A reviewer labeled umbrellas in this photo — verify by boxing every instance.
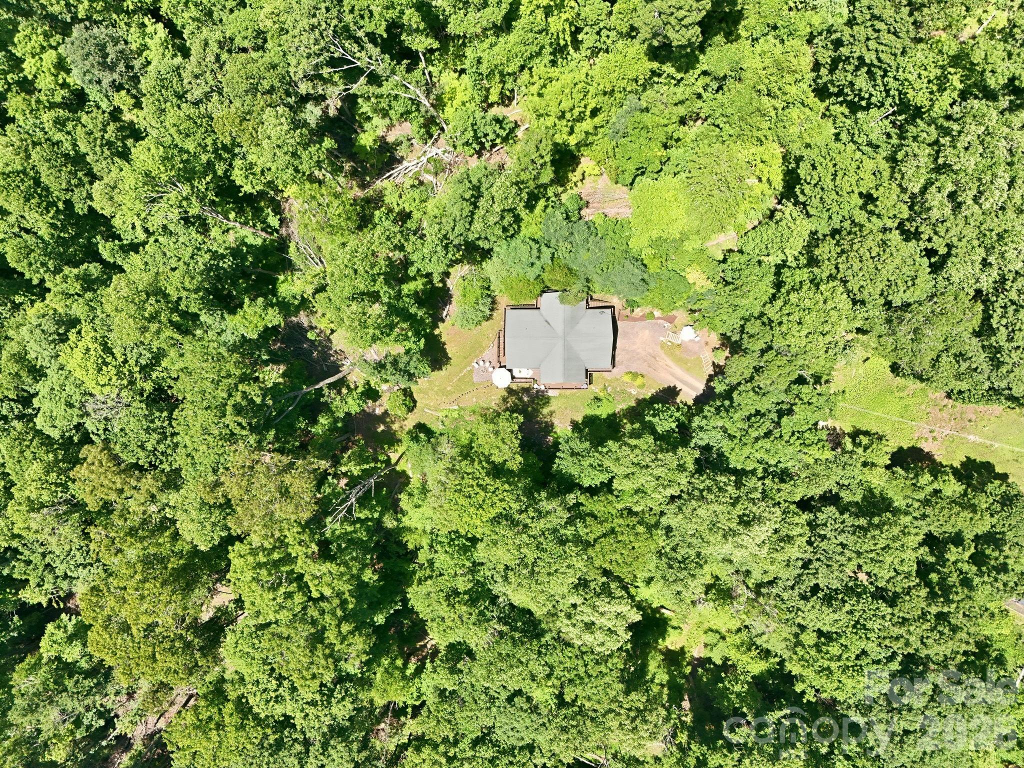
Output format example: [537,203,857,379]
[680,326,696,342]
[492,368,512,388]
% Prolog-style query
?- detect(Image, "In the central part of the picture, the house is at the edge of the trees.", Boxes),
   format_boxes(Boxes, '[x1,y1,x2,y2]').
[498,291,613,390]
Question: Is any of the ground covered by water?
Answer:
No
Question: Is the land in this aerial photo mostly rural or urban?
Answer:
rural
